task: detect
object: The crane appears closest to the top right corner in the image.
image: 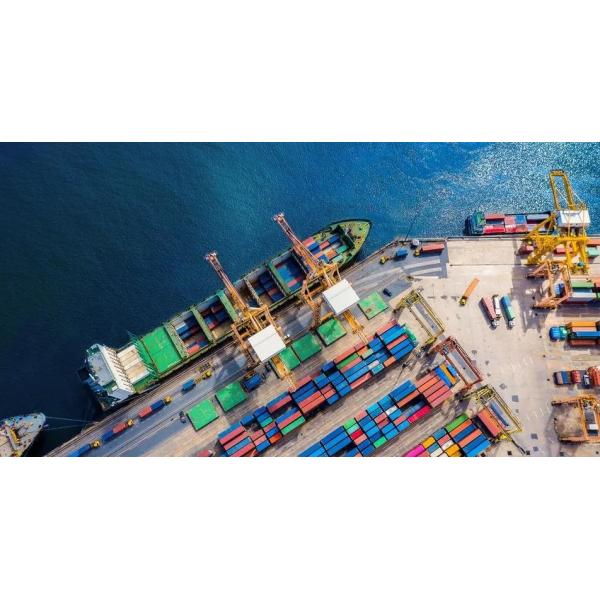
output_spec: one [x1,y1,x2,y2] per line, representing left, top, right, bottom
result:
[519,170,596,271]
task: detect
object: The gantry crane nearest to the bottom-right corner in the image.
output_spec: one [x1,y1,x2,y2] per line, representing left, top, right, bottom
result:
[553,396,600,441]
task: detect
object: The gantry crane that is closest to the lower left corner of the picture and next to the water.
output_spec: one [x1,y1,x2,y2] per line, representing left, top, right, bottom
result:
[205,253,295,383]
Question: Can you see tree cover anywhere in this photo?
No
